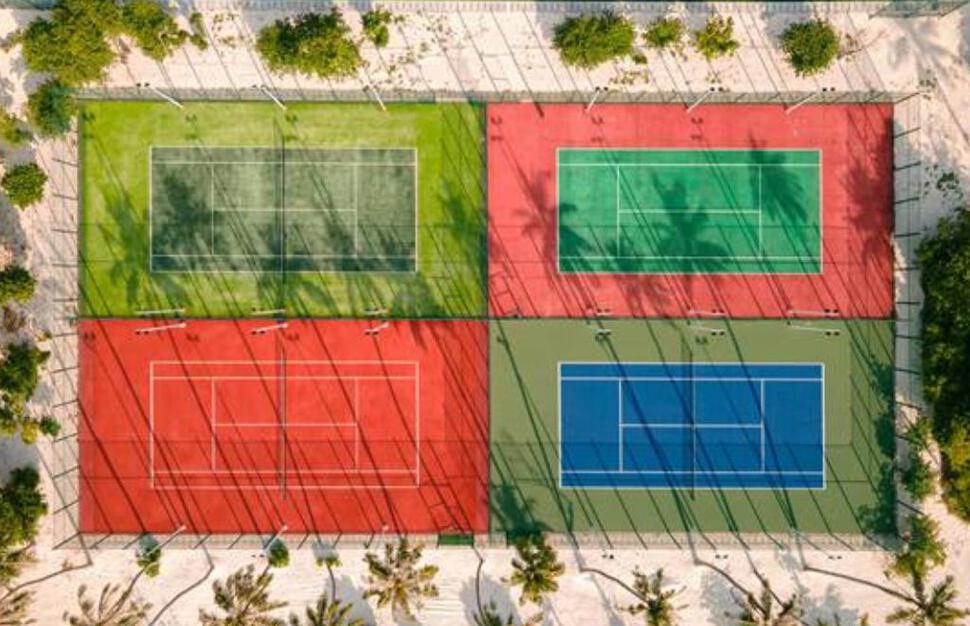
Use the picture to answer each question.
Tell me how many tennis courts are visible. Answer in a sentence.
Looking from above, you can make out 4 tennis courts.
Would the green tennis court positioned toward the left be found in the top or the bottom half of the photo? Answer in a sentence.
The green tennis court positioned toward the left is in the top half of the image.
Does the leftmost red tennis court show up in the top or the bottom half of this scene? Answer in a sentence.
The leftmost red tennis court sits in the bottom half of the picture.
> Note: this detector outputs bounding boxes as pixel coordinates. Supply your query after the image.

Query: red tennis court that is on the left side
[79,320,488,533]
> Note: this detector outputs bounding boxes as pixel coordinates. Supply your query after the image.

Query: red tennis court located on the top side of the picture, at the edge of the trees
[488,103,893,317]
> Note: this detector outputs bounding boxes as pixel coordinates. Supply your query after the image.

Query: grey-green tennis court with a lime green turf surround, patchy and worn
[79,102,487,317]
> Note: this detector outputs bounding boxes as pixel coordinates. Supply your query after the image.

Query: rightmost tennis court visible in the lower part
[489,320,894,534]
